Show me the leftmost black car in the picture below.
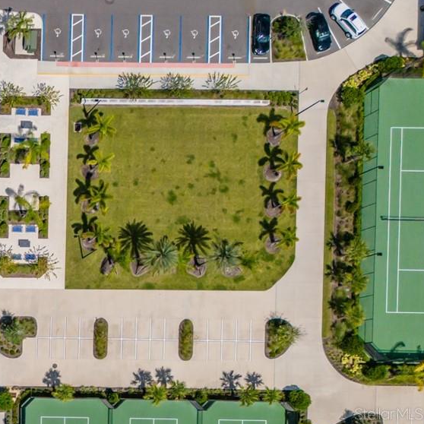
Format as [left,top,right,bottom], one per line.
[254,12,276,53]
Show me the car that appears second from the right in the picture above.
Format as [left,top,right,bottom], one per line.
[309,11,335,50]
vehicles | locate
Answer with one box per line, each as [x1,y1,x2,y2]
[309,11,335,50]
[334,4,367,40]
[254,12,276,53]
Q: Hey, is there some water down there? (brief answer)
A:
No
